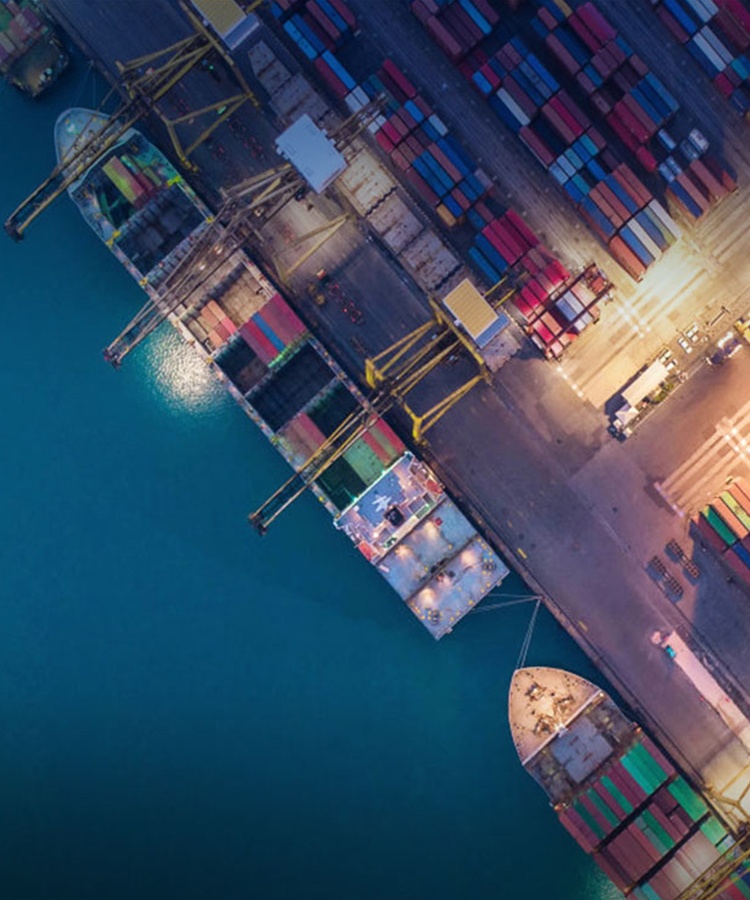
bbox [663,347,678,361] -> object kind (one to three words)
car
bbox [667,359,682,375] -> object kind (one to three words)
vehicle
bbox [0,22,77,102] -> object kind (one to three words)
ship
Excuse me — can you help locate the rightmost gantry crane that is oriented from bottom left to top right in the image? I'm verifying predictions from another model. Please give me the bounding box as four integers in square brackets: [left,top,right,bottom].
[515,263,615,372]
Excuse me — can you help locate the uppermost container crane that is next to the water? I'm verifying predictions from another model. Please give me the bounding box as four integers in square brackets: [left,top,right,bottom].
[0,0,266,234]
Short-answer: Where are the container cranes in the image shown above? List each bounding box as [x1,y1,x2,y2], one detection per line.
[98,93,391,375]
[0,0,266,234]
[515,263,615,372]
[679,761,750,900]
[244,258,528,535]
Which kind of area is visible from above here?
port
